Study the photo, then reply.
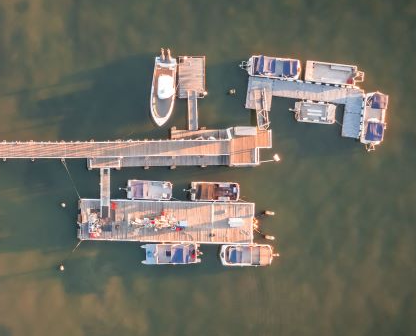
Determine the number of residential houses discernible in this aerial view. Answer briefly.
none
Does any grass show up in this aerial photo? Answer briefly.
No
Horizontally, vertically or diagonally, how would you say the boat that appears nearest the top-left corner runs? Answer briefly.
vertically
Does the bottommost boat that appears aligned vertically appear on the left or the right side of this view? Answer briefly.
right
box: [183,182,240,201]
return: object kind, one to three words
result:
boat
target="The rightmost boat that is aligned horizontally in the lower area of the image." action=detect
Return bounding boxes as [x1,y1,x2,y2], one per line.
[220,243,280,266]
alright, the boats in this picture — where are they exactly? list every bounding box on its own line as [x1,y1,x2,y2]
[358,94,389,152]
[152,48,177,126]
[119,180,173,200]
[220,243,280,266]
[240,54,304,79]
[183,182,240,201]
[140,243,204,266]
[304,60,363,86]
[289,101,336,121]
